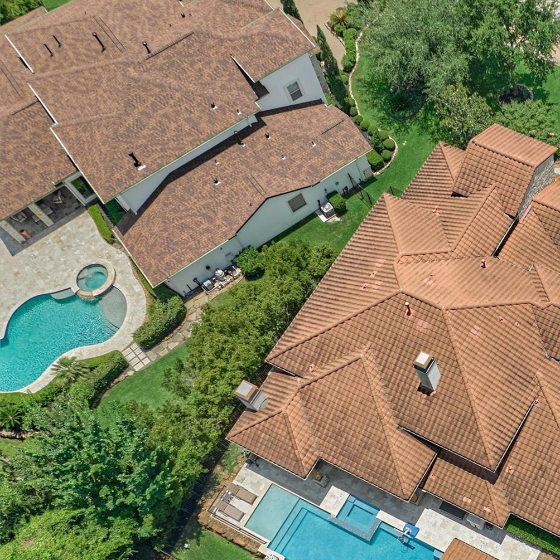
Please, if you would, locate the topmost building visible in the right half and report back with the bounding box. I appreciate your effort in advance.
[222,122,560,538]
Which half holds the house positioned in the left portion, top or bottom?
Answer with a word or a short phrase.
top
